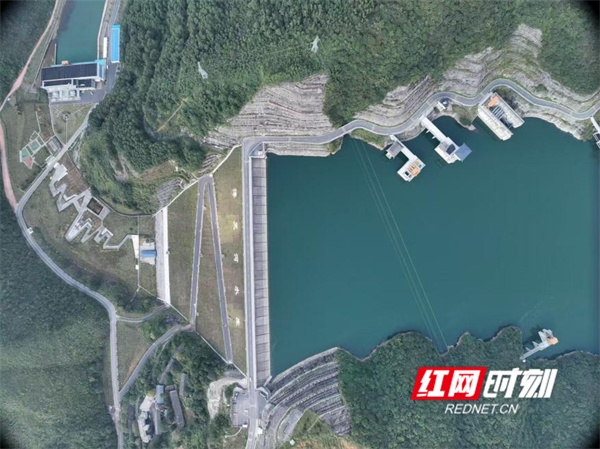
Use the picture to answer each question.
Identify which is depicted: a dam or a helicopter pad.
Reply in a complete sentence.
The one in the frame is a dam.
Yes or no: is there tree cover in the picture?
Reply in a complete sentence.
Yes, the picture does contain tree cover.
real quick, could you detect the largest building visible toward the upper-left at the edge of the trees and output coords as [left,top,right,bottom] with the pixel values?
[41,59,109,102]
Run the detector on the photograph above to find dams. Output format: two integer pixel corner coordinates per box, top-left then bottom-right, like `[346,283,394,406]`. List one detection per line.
[155,136,271,385]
